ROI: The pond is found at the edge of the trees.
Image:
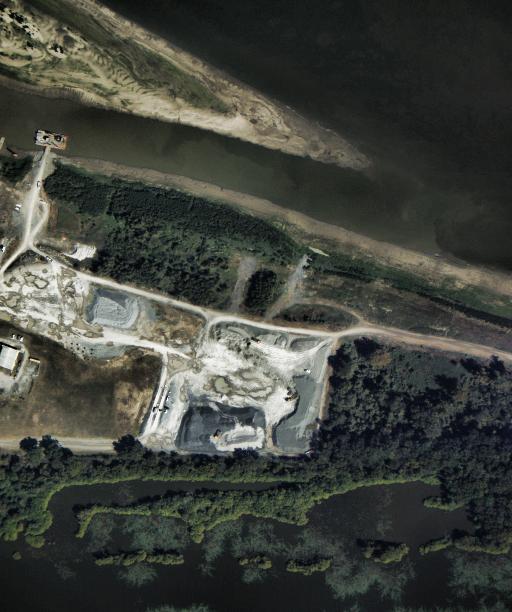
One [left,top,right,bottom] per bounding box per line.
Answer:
[0,478,512,612]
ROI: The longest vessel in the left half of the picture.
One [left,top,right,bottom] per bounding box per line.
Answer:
[35,131,68,149]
